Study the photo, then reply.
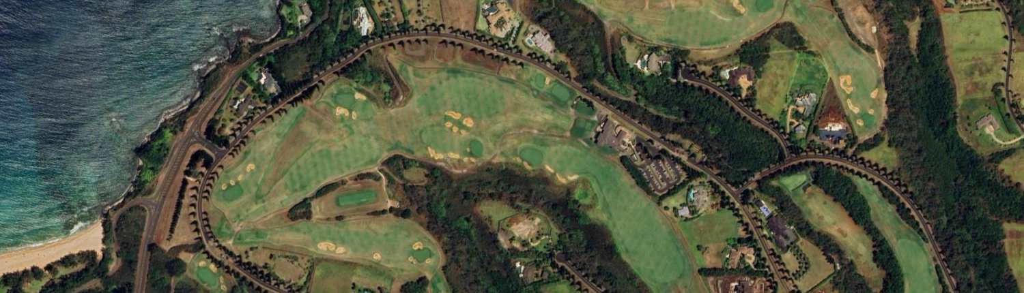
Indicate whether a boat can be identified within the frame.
No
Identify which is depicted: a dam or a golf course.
golf course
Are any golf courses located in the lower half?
Yes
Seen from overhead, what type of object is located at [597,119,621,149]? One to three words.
building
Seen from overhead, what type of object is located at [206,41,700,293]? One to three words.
golf course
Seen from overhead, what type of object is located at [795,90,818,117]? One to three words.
house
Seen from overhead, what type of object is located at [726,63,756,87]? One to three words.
house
